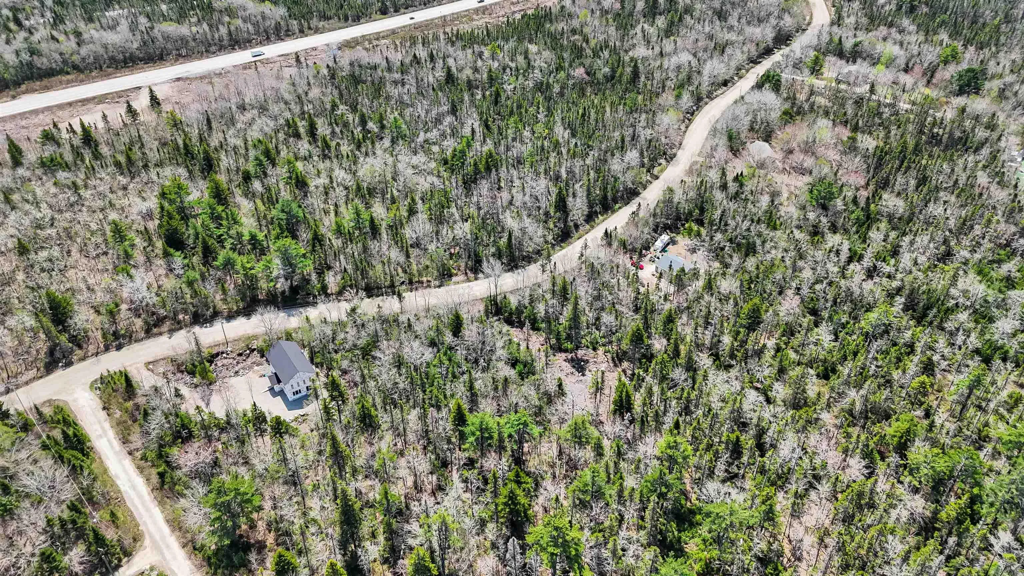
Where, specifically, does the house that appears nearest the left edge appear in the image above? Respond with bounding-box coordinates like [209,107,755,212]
[260,342,317,401]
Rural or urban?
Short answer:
rural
